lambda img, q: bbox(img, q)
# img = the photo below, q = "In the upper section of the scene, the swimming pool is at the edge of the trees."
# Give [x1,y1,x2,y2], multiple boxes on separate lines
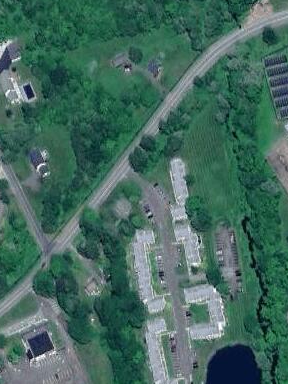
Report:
[22,81,35,101]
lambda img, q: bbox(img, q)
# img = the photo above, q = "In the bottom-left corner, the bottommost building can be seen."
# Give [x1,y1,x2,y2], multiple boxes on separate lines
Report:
[22,326,59,365]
